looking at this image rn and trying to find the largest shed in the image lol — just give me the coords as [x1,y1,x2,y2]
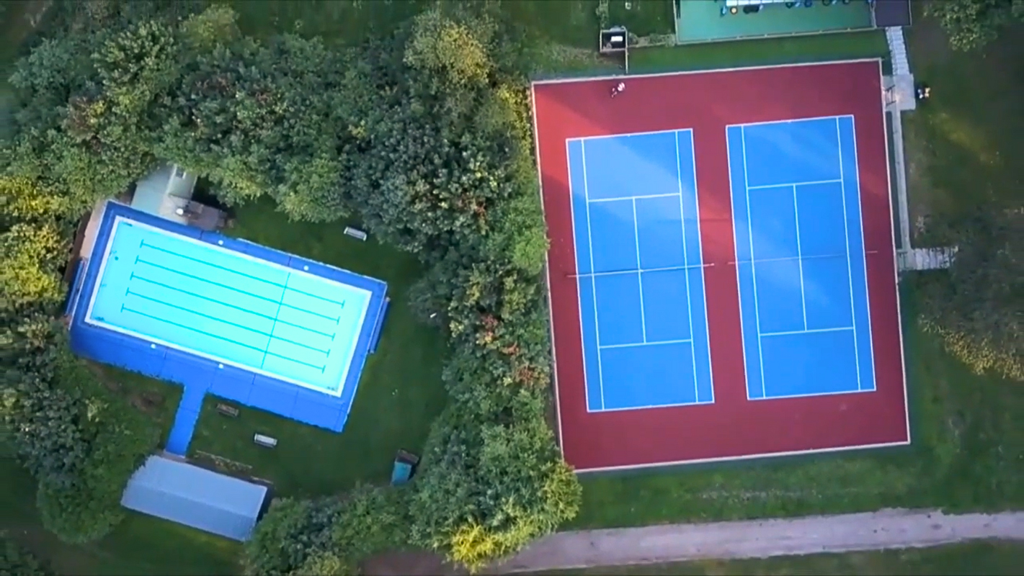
[121,454,269,542]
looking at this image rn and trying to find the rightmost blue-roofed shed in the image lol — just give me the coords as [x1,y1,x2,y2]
[393,448,420,485]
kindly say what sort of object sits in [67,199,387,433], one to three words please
swimming pool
